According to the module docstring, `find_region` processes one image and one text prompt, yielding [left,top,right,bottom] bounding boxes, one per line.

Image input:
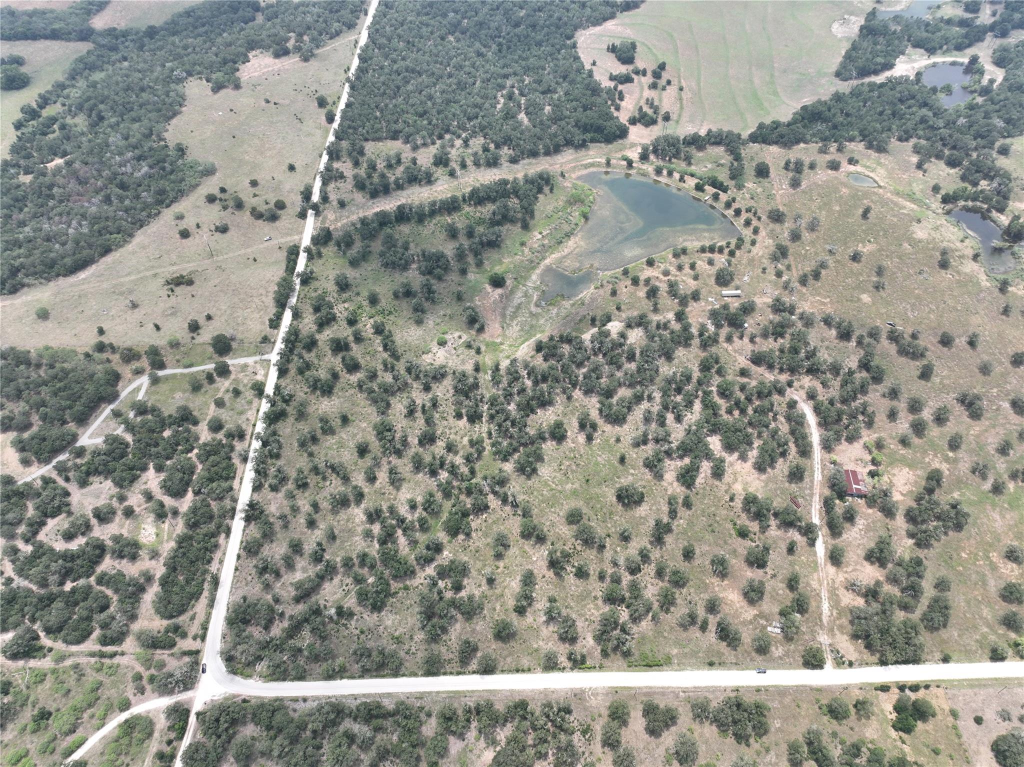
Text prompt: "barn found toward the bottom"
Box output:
[843,465,870,493]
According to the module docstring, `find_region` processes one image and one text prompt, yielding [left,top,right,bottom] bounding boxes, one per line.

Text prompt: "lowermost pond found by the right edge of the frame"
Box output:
[947,209,1024,273]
